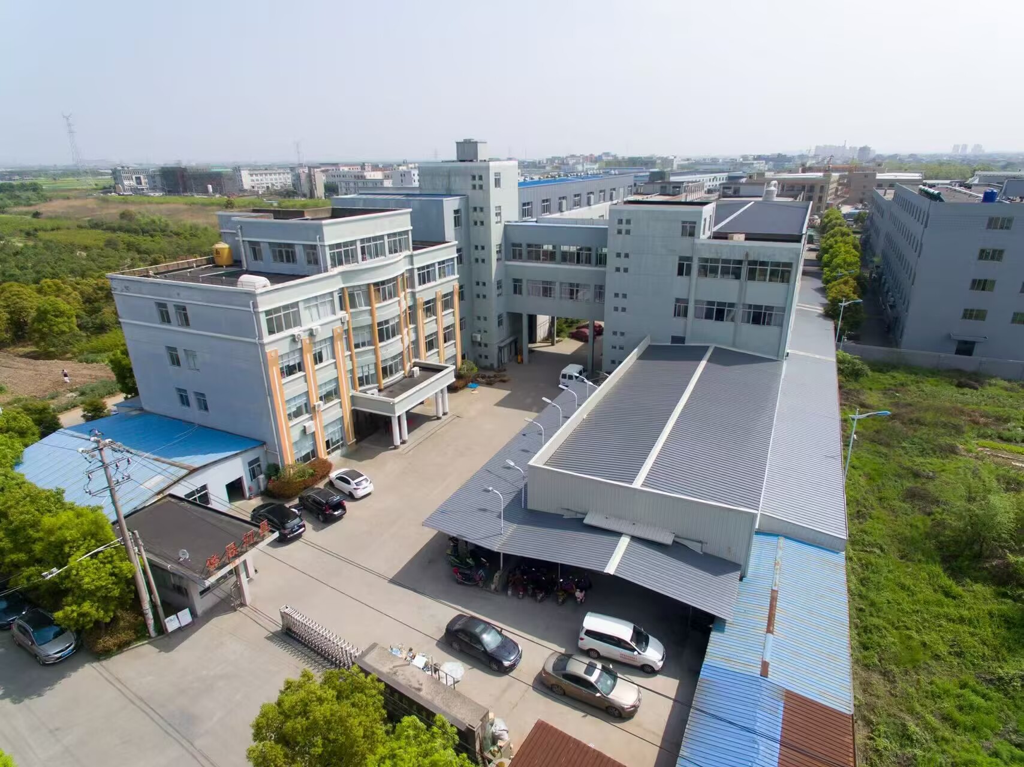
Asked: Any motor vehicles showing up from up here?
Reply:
Yes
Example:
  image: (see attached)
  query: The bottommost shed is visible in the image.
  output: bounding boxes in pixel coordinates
[516,719,618,767]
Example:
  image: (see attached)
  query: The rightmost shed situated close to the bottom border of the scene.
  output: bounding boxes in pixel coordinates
[678,538,856,767]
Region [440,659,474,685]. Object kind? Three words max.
umbrella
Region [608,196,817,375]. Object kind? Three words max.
building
